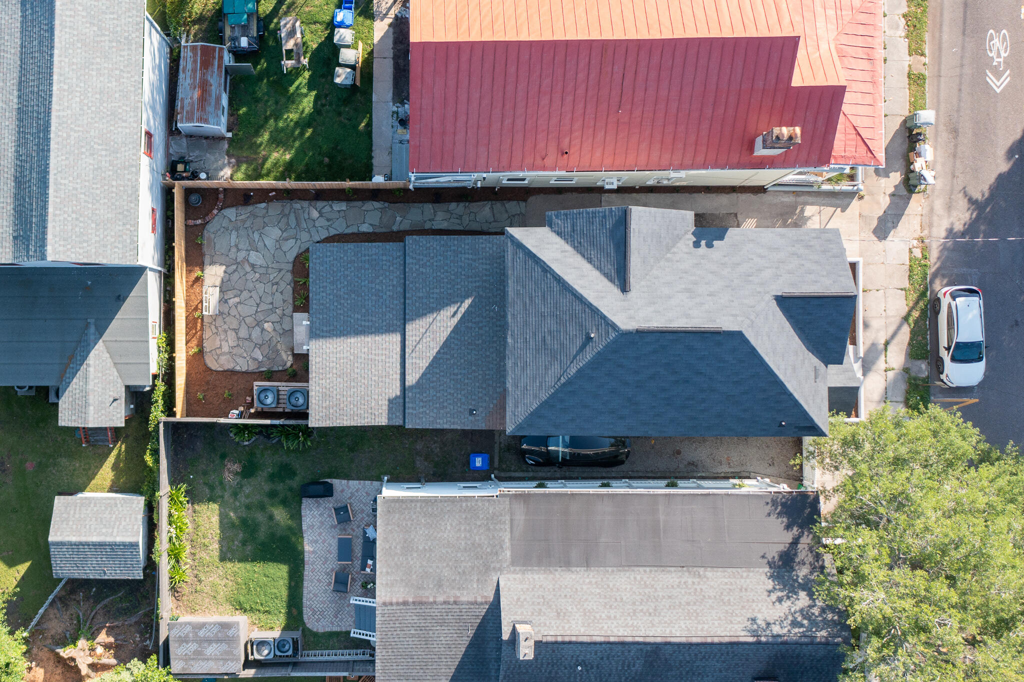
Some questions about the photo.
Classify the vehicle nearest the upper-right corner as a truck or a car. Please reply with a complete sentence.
The vehicle nearest the upper-right corner in the image is a car.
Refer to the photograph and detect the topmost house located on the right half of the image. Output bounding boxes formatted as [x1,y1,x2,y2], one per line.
[405,0,889,196]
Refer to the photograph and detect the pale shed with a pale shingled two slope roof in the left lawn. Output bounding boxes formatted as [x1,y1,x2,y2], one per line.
[48,487,156,579]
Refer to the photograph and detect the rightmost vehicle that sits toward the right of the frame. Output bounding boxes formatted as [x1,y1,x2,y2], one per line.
[932,288,989,387]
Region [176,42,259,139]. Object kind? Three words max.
shed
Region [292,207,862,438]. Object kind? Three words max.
house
